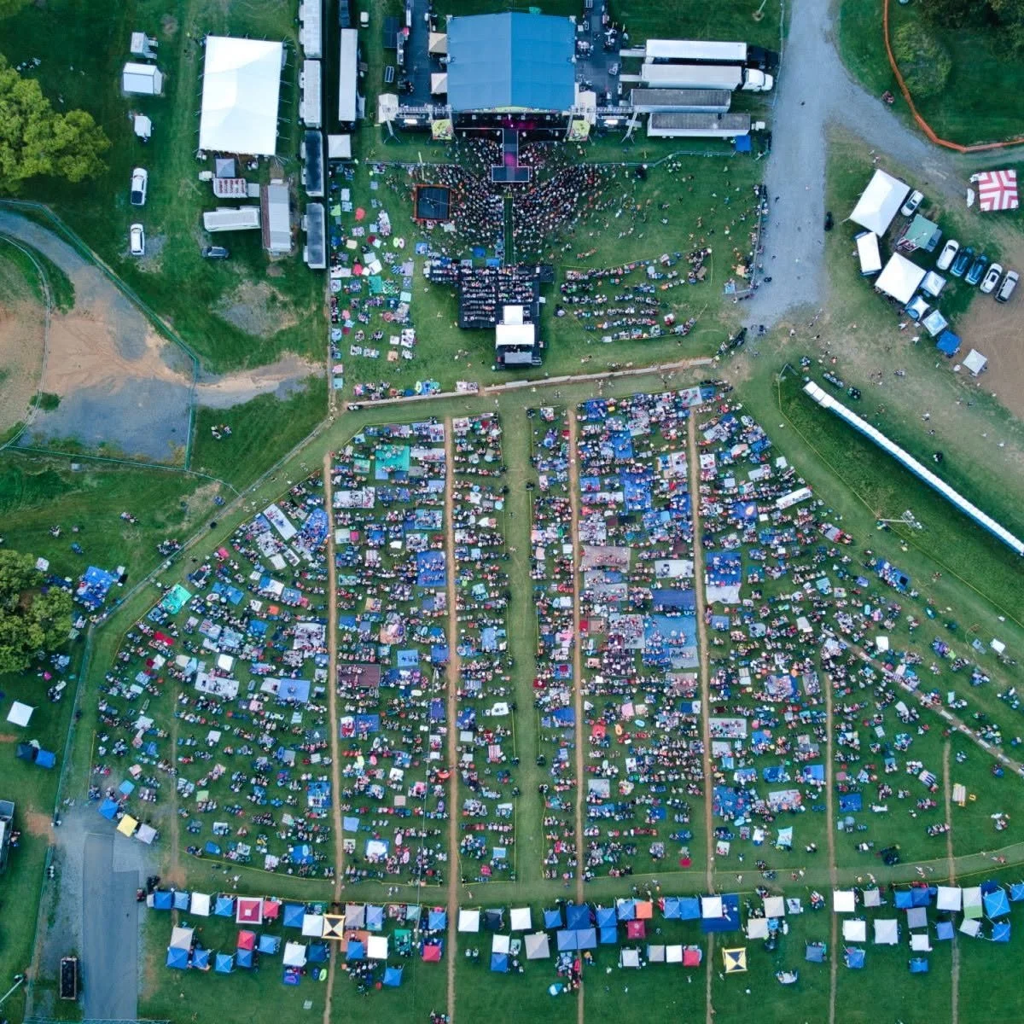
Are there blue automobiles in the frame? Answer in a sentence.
Yes, this view includes a blue automobile.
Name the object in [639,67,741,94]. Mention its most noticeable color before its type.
white trailer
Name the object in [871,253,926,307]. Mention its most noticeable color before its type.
white tent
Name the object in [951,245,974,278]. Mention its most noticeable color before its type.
blue car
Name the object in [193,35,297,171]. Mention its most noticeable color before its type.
white tent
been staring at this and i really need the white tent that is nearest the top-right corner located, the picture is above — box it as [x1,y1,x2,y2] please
[845,169,910,240]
